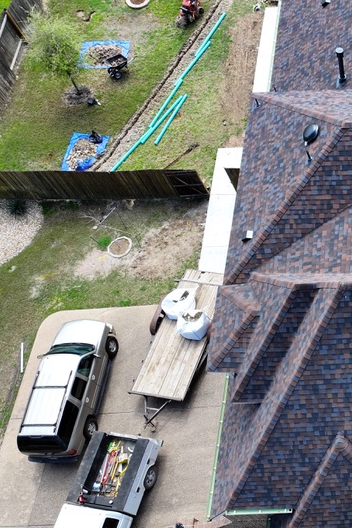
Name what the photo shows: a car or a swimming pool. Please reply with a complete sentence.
Of the two, only a car appears.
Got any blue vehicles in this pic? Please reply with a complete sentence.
No, no blue vehicle can be seen from above.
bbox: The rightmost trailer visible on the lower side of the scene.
[124,261,226,439]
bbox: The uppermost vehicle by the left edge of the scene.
[17,323,119,465]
